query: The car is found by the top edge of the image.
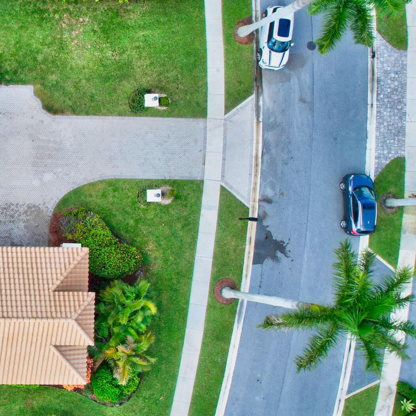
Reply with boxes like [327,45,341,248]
[259,3,298,68]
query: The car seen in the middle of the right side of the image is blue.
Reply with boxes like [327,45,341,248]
[340,173,379,236]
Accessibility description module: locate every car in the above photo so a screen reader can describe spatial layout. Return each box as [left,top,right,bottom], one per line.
[259,3,298,68]
[340,173,379,236]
